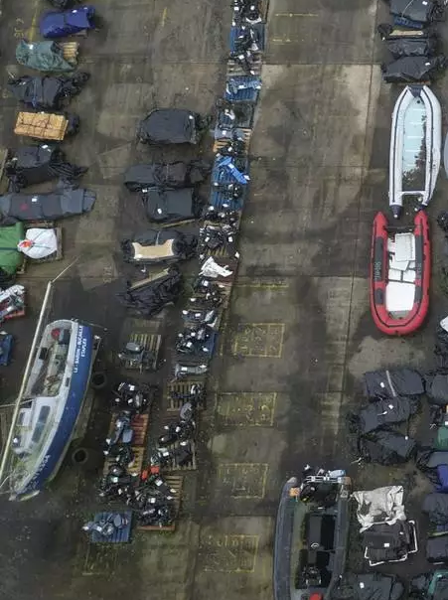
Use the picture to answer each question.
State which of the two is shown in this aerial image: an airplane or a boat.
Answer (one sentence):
Of the two, only a boat appears.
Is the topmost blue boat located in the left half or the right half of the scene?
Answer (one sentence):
The topmost blue boat sits on the left side.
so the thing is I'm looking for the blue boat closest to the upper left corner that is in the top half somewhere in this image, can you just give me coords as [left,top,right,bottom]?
[37,2,101,42]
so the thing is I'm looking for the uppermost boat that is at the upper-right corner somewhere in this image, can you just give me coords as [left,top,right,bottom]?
[379,0,448,28]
